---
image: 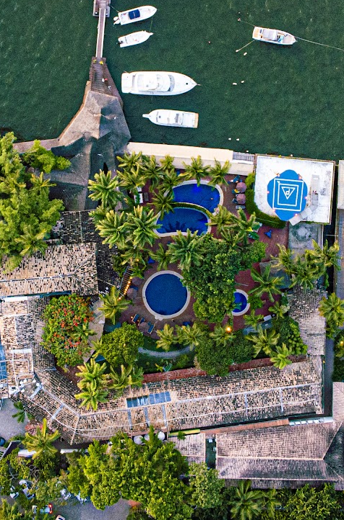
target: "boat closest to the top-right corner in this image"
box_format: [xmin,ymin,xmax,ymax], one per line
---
[253,27,294,45]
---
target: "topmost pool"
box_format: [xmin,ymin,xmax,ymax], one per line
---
[169,180,223,213]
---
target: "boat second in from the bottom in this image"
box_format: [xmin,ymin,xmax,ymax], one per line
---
[122,72,200,96]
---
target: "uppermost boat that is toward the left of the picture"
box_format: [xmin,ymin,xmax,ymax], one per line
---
[115,7,157,25]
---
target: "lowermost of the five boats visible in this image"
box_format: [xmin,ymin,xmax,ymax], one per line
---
[142,108,199,127]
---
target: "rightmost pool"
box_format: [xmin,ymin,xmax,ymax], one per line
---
[224,289,250,315]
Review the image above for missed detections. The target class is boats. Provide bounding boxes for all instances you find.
[253,27,294,45]
[122,72,200,96]
[115,7,157,25]
[115,32,156,47]
[142,108,199,127]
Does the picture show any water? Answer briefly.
Yes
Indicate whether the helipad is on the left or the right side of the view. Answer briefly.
right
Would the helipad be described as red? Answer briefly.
No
